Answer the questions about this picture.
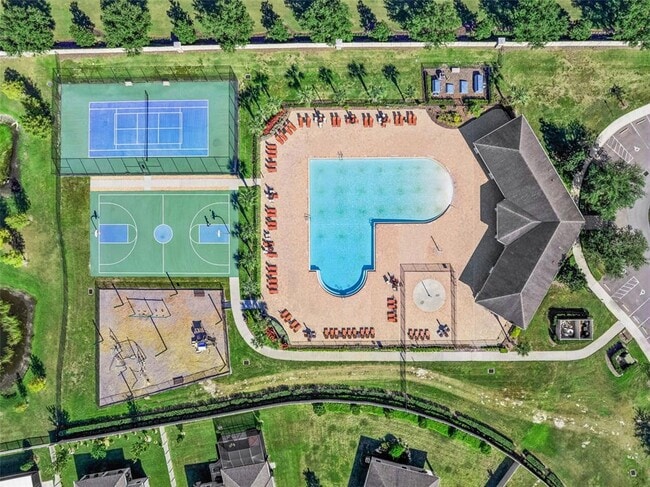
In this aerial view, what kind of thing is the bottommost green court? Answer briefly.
basketball court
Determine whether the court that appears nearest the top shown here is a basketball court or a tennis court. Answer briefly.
tennis court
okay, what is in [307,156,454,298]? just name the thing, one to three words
swimming pool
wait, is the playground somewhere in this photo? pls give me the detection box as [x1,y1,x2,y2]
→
[98,289,229,406]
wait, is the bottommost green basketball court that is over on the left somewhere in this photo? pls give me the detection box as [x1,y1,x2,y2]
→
[90,190,238,276]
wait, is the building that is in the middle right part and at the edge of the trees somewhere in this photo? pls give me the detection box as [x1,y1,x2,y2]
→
[470,114,608,330]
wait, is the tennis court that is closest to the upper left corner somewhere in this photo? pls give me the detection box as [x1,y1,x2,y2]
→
[62,83,236,174]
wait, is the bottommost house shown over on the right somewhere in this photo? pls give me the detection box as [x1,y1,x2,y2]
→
[364,455,441,487]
